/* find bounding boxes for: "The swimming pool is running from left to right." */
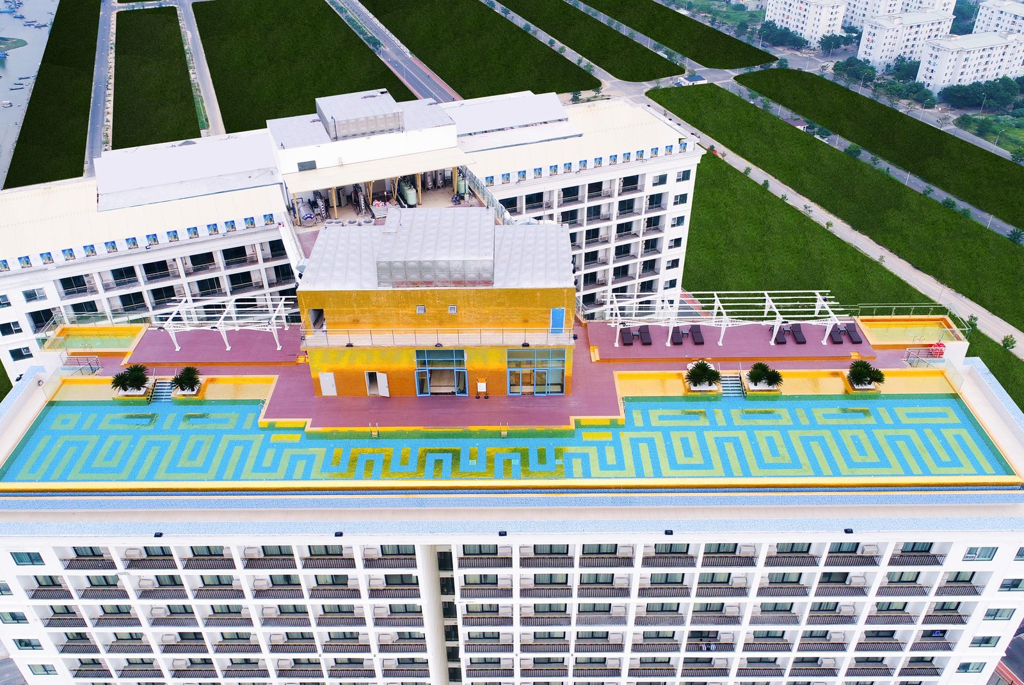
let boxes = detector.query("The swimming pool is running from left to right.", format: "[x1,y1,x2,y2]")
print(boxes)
[0,360,1024,510]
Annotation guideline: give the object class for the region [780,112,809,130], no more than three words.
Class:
shed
